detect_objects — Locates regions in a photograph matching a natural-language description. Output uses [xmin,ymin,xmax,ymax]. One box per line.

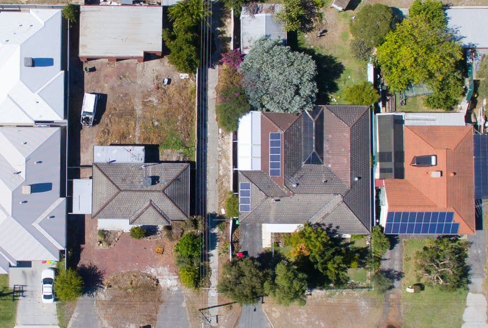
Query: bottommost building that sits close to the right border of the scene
[375,112,488,235]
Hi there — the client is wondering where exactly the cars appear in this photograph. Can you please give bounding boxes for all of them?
[81,91,98,125]
[40,268,55,302]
